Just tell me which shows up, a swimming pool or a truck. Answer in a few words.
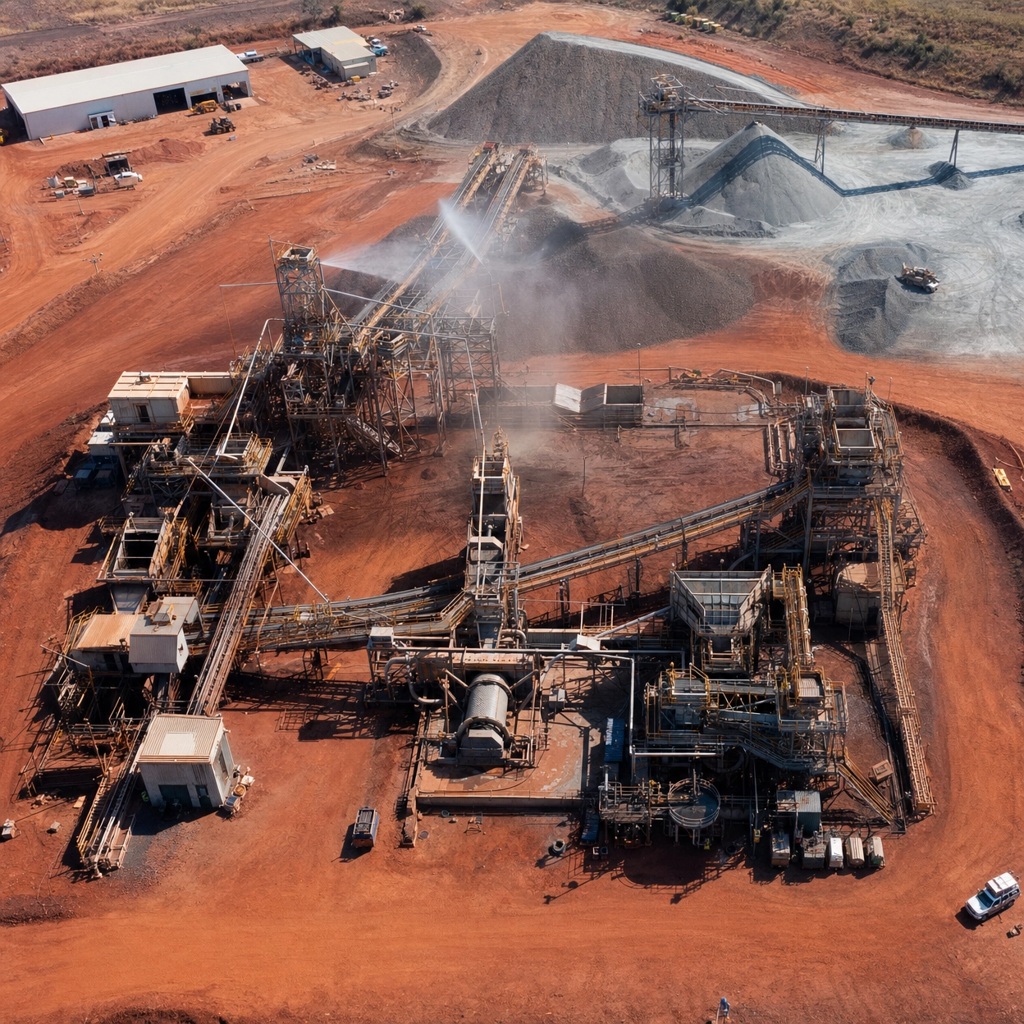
truck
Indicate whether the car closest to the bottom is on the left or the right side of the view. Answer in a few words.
right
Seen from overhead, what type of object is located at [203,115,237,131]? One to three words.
work vehicle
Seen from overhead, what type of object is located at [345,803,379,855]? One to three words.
truck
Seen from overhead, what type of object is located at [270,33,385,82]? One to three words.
shed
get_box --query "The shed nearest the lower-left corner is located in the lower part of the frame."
[135,711,243,807]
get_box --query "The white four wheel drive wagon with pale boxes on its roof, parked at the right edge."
[964,873,1024,921]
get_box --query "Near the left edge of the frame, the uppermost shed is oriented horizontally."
[0,53,273,139]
